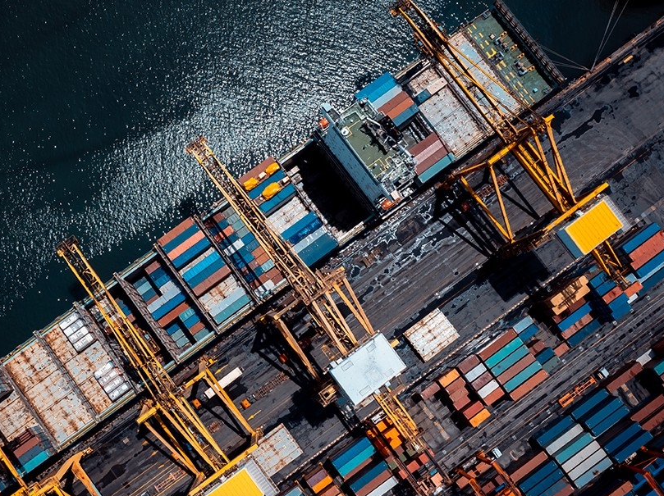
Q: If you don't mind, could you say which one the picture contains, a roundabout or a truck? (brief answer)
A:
truck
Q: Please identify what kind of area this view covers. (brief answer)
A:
port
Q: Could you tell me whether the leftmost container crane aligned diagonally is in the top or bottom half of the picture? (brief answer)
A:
bottom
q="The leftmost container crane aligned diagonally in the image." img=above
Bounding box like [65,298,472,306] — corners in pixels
[49,238,277,496]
